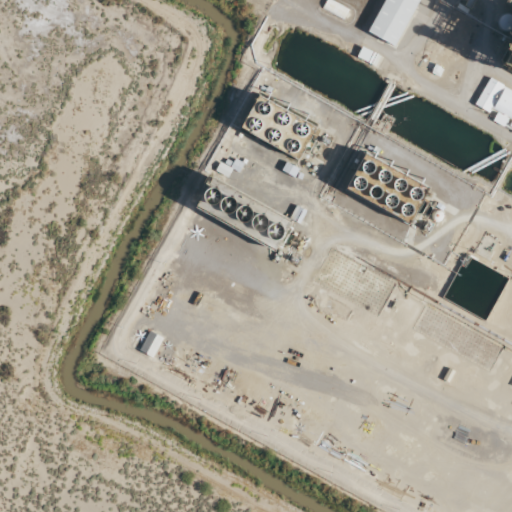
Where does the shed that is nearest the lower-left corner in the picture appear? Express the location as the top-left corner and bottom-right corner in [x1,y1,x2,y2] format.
[139,330,164,358]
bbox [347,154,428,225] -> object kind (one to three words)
cooling tower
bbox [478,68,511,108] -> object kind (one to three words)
building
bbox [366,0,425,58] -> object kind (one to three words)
building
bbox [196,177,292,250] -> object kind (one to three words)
cooling tower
